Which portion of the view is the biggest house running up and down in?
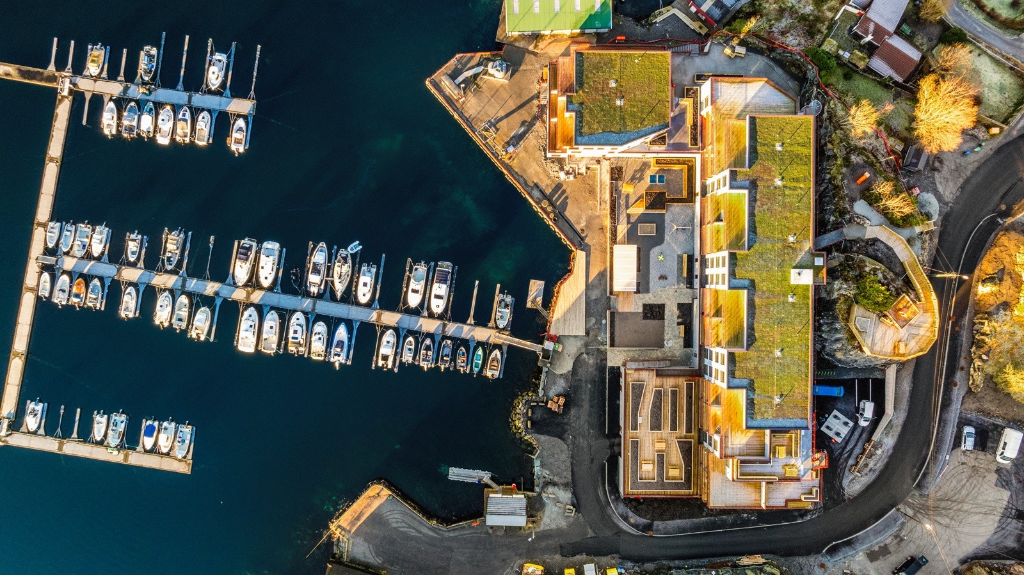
right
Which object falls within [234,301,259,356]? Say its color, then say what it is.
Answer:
white boat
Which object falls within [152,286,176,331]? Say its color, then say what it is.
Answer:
white boat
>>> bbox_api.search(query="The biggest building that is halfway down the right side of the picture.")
[696,76,827,510]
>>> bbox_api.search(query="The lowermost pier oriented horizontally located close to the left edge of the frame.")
[3,430,194,474]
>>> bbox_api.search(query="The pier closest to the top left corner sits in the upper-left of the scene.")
[0,62,64,89]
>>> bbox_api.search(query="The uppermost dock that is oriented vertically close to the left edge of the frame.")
[0,94,75,419]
